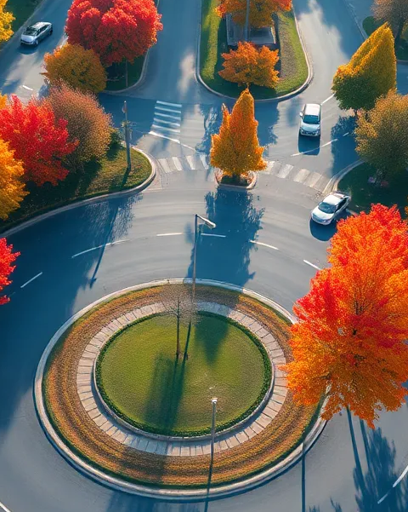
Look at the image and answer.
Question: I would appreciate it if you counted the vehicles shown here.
3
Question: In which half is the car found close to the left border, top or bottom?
top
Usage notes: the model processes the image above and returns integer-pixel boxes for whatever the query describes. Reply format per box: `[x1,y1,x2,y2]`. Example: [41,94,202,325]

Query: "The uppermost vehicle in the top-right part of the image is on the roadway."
[298,101,323,136]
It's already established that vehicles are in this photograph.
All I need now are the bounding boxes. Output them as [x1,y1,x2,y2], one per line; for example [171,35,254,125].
[298,101,323,136]
[307,192,355,229]
[20,22,51,47]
